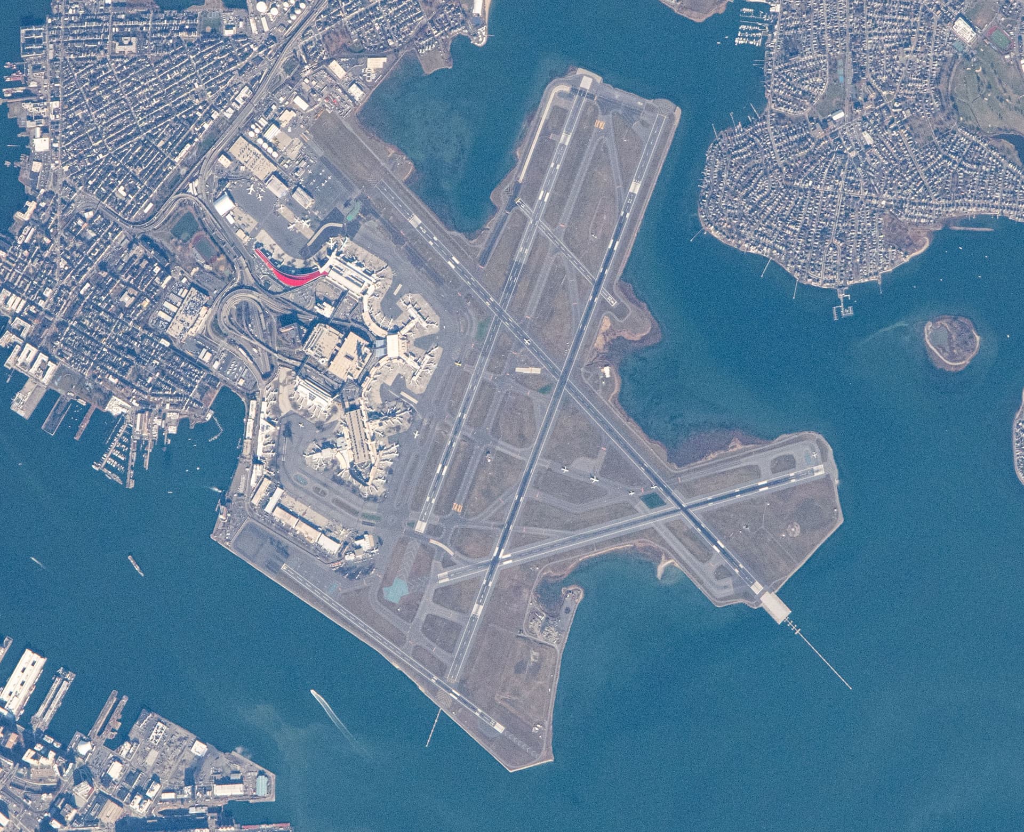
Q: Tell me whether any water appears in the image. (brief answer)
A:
Yes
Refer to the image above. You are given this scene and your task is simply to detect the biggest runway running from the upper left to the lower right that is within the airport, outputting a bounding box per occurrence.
[375,178,765,595]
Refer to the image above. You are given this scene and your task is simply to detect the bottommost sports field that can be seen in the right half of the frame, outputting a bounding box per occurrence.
[813,77,847,118]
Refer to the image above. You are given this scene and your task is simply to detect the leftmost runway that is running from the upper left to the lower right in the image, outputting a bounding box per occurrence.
[282,564,505,732]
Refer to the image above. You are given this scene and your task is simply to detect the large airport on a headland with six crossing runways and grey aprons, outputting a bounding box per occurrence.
[211,68,842,771]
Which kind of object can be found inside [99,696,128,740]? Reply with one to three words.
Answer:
pier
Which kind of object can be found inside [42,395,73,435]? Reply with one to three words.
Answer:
pier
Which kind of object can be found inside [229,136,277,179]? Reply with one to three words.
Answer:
building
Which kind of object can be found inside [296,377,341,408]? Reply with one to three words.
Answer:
building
